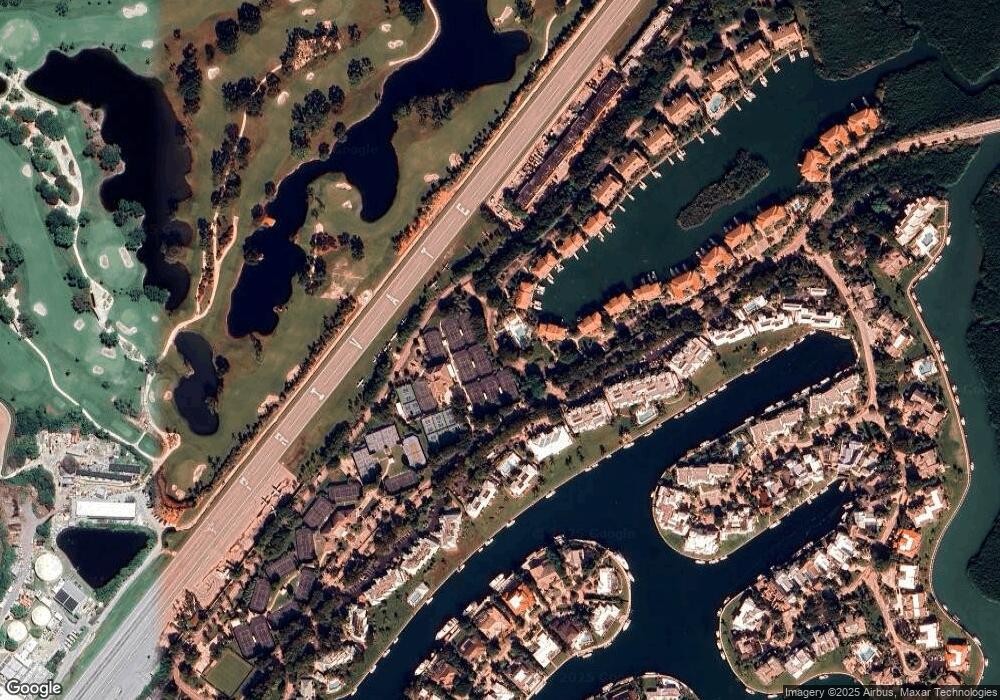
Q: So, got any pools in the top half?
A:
Yes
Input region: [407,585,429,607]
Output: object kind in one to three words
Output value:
swimming pool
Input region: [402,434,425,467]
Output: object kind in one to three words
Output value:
sports court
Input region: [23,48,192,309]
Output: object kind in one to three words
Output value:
pond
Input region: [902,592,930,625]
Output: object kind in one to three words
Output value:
house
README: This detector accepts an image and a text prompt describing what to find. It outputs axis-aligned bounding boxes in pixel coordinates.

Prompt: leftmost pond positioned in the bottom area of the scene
[57,527,150,589]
